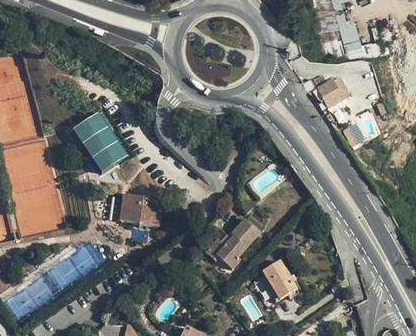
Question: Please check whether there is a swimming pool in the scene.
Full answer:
Yes, there's a swimming pool here.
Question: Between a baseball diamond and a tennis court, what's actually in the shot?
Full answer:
There is a tennis court in the scene.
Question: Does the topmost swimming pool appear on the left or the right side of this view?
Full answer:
You can find the topmost swimming pool on the right side of the picture.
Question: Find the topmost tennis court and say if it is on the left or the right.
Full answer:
The topmost tennis court appears in the left half of the scene.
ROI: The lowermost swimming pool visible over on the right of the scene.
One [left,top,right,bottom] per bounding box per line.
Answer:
[238,295,262,316]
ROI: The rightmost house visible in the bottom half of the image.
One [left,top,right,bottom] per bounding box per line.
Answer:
[263,258,300,301]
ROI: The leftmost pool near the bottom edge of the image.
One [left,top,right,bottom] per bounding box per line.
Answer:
[156,298,178,322]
